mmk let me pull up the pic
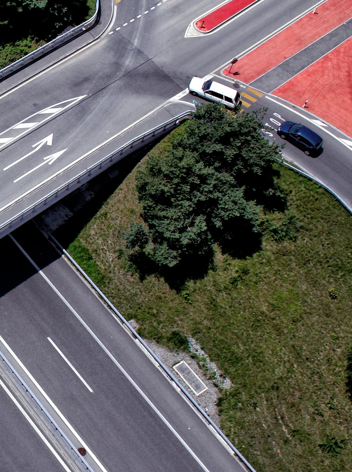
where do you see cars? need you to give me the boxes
[278,121,328,158]
[186,77,239,108]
